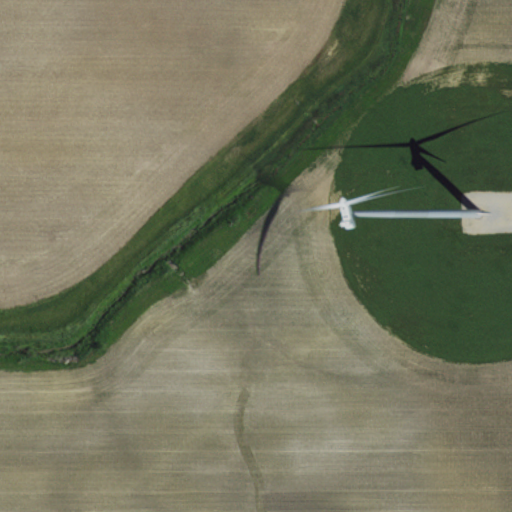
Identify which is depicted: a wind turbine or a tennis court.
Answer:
wind turbine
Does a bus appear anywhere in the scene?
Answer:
No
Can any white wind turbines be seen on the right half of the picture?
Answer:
Yes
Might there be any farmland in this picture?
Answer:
Yes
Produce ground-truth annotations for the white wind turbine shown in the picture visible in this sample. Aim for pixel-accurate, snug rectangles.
[202,184,488,230]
